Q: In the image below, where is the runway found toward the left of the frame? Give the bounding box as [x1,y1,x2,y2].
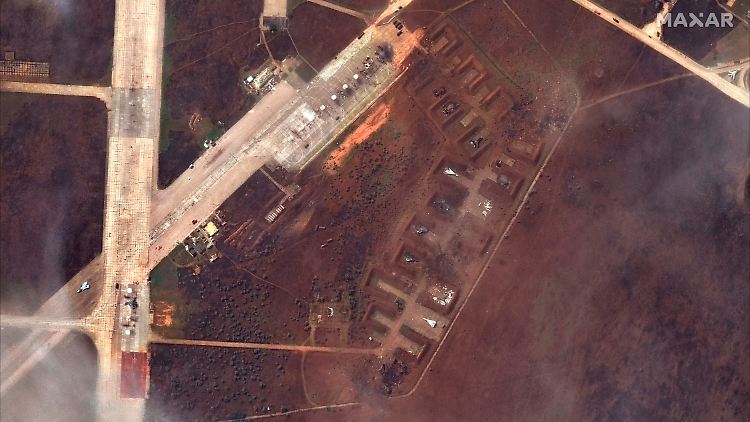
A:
[96,0,166,422]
